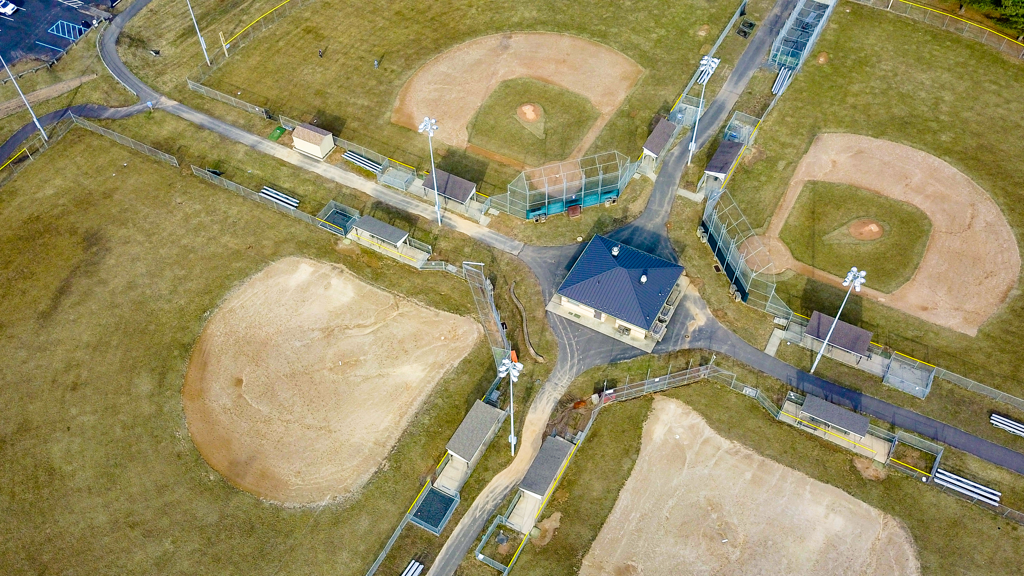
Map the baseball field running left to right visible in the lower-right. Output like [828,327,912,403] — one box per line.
[505,378,1024,576]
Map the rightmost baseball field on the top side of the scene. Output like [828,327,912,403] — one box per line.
[701,1,1024,411]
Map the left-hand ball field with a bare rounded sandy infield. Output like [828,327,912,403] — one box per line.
[0,122,510,576]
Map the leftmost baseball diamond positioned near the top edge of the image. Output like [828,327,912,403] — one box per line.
[192,0,747,220]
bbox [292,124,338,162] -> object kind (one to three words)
shed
